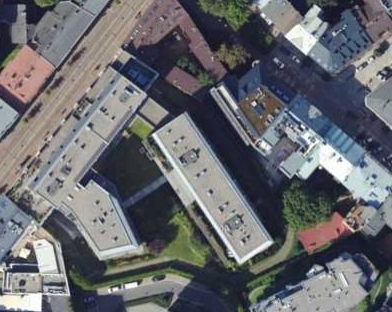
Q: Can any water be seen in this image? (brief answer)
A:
No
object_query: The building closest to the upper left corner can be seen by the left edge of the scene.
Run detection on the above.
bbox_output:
[12,6,27,45]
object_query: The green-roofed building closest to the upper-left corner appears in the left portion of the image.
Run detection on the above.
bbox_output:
[127,118,154,140]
